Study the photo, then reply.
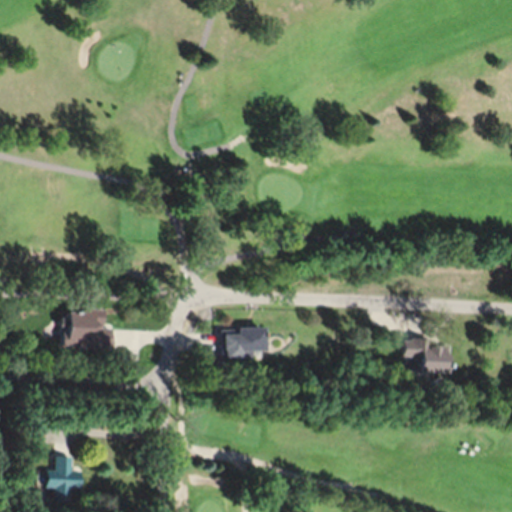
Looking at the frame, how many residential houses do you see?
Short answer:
4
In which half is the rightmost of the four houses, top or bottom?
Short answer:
bottom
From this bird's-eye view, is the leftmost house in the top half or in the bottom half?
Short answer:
bottom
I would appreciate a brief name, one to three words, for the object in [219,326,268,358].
house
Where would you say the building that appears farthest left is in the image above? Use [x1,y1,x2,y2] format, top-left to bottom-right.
[38,454,85,497]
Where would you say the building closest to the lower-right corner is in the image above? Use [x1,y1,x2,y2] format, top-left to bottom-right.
[403,337,455,374]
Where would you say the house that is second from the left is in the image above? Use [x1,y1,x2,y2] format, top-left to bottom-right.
[64,309,115,348]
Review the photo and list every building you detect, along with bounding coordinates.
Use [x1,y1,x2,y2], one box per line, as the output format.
[38,454,85,497]
[219,326,268,358]
[403,337,455,374]
[64,309,115,348]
